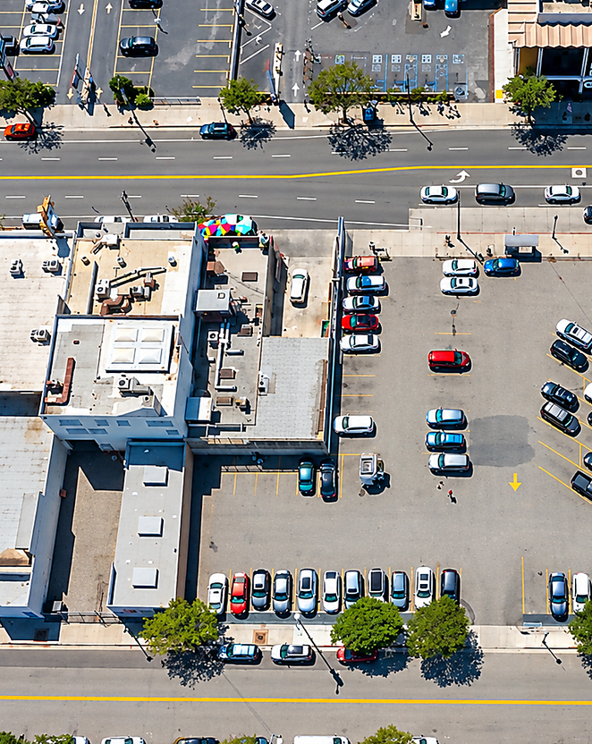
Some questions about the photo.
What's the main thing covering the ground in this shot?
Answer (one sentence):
The bulk of the photo consists of paved ground.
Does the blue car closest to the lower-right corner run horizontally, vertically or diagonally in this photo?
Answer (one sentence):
What the image shows is the blue car closest to the lower-right corner lying vertically.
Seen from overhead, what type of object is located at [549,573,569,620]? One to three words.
car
